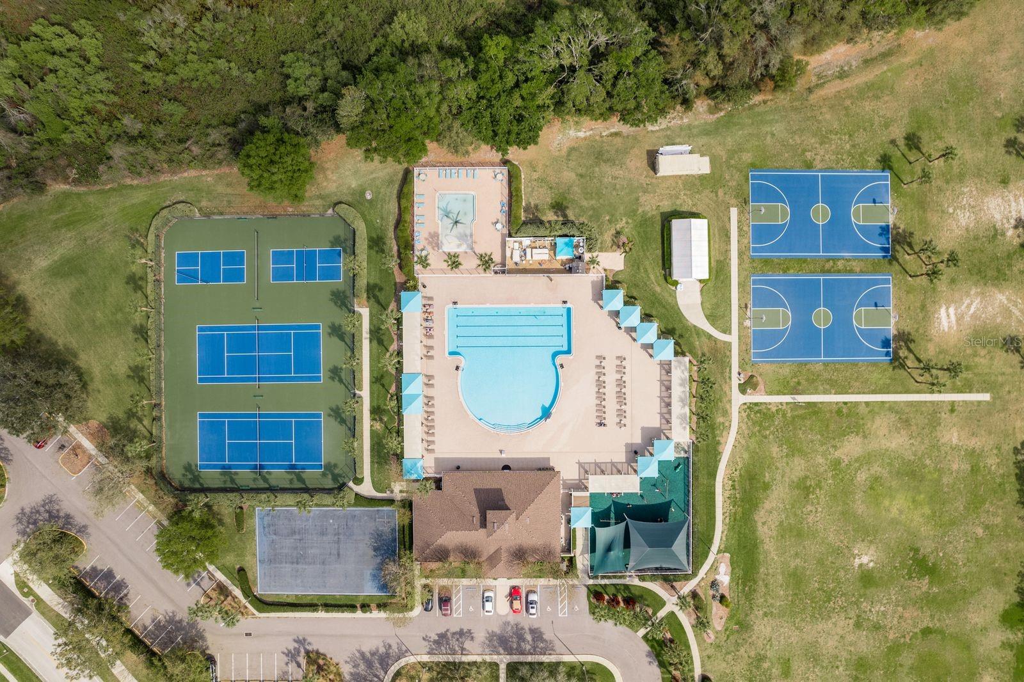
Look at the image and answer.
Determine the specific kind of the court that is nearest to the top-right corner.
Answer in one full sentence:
The court that is nearest to the top-right corner appears to be a basketball court.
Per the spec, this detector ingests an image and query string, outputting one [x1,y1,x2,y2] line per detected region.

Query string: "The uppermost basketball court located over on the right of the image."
[750,170,891,258]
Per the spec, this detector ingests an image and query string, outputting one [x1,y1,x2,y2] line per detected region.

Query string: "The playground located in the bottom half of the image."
[590,457,690,573]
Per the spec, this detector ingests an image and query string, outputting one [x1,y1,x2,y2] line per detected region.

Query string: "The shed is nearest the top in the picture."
[654,154,710,179]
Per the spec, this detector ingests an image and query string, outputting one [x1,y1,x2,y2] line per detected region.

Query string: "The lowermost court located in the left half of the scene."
[256,508,398,595]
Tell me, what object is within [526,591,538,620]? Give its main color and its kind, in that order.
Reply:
white vehicle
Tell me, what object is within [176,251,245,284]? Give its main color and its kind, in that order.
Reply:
blue sports court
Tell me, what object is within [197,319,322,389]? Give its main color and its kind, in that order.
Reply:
blue tennis court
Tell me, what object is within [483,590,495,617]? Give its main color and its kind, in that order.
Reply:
white vehicle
